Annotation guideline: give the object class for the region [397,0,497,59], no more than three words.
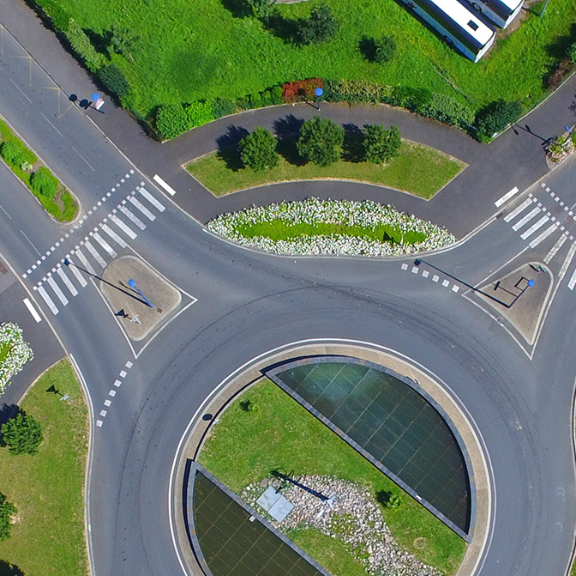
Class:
bus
